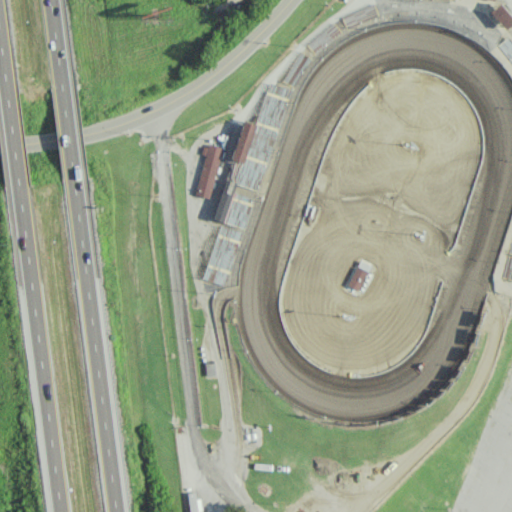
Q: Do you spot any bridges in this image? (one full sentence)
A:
Yes, a bridge is visible in the scene.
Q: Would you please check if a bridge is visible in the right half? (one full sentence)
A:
No, no bridge is visible in the right half.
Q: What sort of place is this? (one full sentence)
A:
What you see here is a sports ground.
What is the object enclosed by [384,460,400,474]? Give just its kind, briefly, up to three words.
camper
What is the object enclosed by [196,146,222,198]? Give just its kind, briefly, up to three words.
building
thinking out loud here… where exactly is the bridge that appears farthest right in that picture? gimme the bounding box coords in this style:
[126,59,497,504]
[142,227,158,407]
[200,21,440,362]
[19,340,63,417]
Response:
[50,86,89,190]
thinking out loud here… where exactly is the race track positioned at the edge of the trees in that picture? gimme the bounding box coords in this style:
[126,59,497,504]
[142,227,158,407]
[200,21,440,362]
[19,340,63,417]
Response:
[238,23,512,420]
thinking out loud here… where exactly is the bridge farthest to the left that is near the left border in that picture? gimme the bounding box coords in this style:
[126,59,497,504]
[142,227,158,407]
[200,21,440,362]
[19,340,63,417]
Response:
[0,98,33,202]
